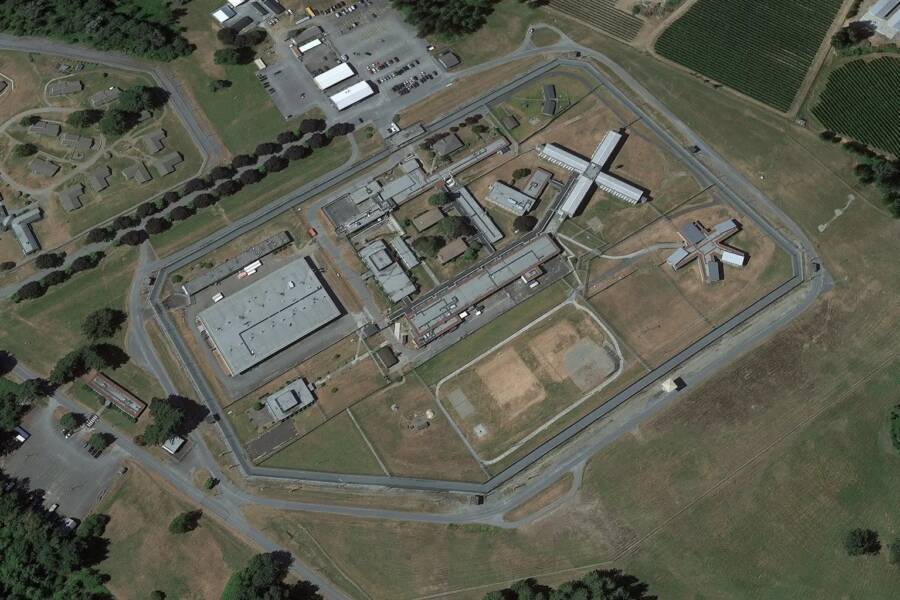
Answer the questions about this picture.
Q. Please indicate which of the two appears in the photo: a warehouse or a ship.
warehouse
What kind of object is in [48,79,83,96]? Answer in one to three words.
house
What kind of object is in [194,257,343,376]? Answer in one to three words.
warehouse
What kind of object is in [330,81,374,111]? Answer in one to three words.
shed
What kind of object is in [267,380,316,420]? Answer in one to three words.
building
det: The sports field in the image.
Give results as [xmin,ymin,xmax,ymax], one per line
[435,300,623,463]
